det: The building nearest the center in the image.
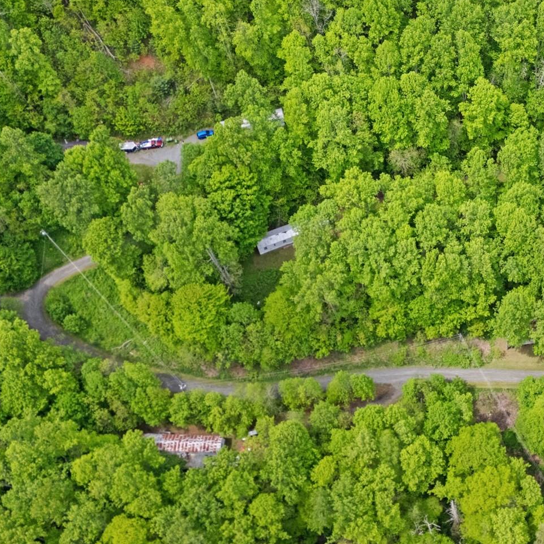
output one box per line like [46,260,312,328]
[259,223,314,255]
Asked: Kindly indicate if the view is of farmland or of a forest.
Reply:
forest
